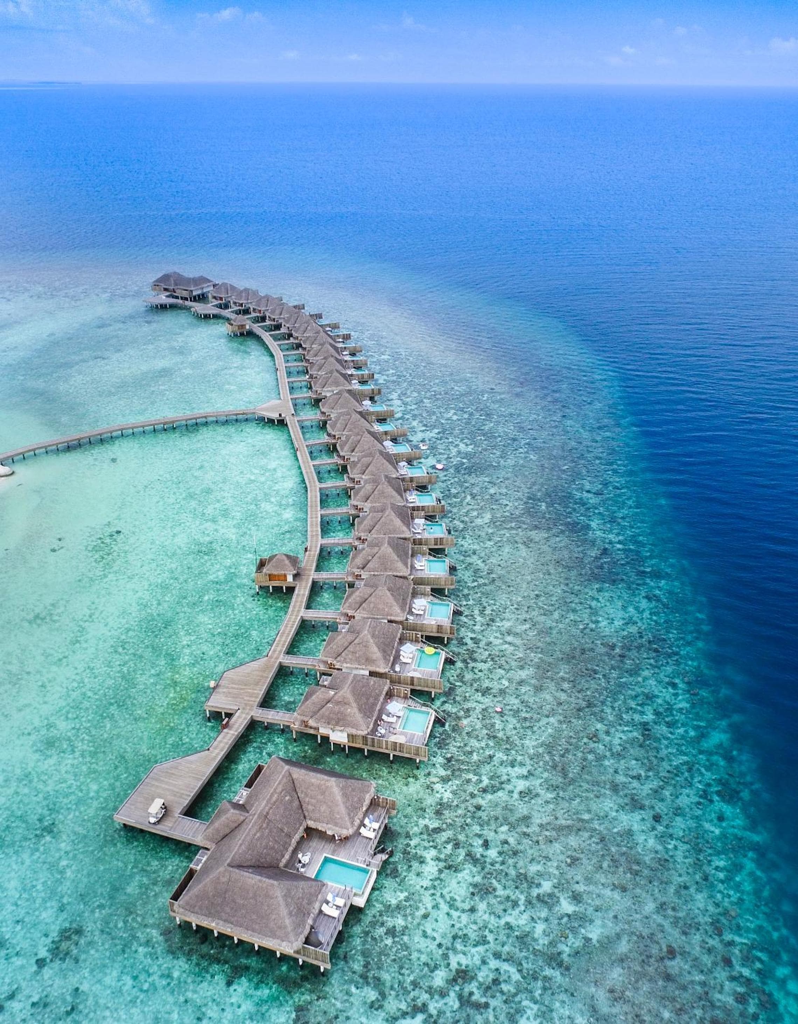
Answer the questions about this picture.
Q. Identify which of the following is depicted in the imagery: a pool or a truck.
pool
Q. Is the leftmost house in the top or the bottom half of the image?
top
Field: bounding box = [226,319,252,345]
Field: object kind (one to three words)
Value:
shed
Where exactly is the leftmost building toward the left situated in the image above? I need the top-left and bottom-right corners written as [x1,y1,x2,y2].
[158,269,219,302]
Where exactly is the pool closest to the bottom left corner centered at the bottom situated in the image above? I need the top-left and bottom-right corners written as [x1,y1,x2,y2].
[315,854,370,896]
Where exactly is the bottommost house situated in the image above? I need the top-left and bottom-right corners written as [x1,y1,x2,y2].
[167,756,396,979]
